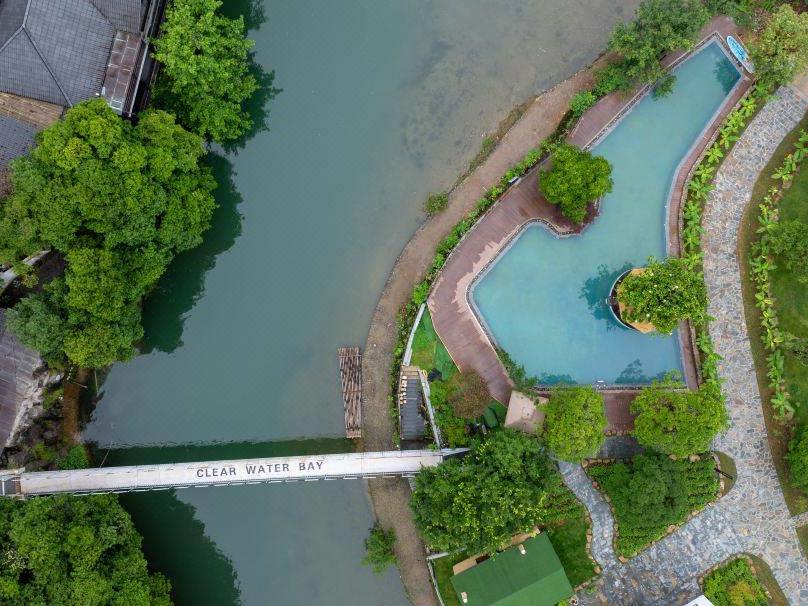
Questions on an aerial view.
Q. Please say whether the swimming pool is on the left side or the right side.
right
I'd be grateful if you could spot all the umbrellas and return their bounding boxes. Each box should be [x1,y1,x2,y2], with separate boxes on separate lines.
[505,391,548,432]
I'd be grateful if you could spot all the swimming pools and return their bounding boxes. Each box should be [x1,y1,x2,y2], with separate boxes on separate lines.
[467,33,749,392]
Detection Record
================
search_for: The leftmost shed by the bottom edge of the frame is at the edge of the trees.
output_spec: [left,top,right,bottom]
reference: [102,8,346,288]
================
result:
[447,518,574,606]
